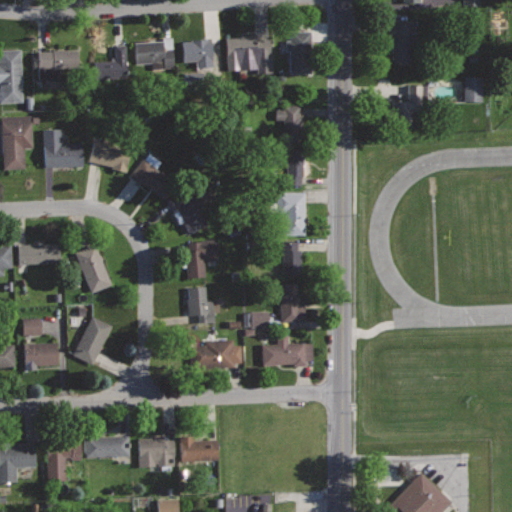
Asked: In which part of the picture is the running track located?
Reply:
right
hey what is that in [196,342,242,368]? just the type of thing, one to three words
house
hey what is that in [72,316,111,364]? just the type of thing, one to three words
house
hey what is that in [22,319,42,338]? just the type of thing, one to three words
building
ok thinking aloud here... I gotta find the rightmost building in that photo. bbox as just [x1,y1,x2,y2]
[464,76,484,102]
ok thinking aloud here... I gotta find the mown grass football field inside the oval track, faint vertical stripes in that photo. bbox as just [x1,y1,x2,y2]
[390,168,512,304]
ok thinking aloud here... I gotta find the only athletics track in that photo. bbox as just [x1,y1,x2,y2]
[369,146,512,330]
